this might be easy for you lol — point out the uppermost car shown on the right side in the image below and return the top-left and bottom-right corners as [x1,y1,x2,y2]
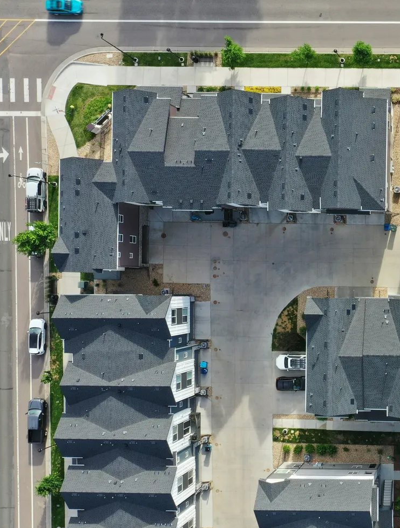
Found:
[276,353,306,372]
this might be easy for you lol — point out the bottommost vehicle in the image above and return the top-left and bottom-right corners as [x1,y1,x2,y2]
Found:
[23,398,46,444]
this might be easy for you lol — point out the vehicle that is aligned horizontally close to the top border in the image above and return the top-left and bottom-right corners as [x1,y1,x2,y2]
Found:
[42,0,80,16]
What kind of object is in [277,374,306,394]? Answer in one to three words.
vehicle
